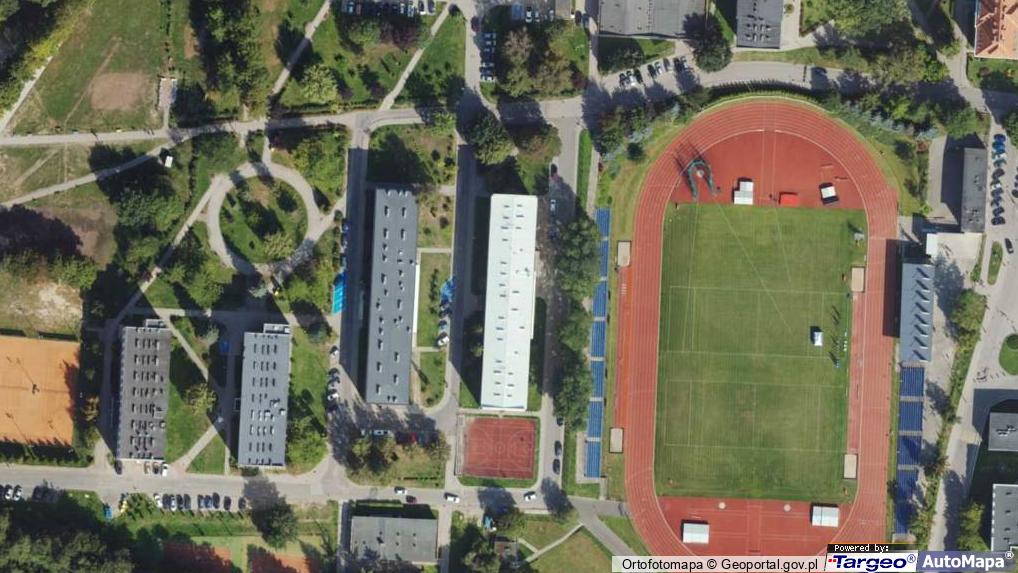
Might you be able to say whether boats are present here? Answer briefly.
No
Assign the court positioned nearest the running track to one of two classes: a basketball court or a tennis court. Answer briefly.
basketball court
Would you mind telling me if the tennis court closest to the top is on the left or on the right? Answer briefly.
left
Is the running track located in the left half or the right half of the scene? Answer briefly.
right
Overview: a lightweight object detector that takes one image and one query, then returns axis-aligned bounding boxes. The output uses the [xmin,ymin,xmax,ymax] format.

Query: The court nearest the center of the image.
[463,417,536,479]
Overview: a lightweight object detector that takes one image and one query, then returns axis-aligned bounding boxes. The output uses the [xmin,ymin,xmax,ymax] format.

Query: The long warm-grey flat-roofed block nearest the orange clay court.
[115,319,171,461]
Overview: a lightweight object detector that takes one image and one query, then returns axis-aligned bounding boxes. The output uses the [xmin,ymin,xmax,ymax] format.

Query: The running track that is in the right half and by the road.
[612,101,897,573]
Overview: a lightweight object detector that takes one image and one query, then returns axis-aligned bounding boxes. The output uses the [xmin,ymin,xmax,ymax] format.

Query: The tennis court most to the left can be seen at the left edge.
[0,335,80,447]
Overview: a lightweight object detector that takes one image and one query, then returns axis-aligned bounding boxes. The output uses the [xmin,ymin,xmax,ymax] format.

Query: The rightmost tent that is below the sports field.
[812,506,838,527]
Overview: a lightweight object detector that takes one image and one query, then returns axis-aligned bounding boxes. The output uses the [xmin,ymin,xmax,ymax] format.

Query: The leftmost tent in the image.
[683,524,709,544]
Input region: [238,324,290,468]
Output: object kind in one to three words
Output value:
building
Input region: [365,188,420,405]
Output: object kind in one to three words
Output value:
building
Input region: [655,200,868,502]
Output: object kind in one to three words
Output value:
sports field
